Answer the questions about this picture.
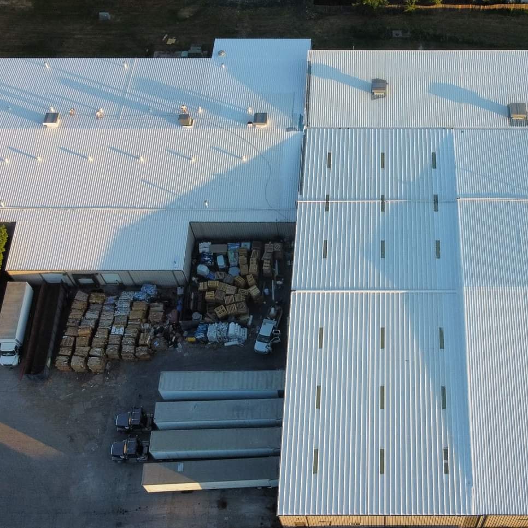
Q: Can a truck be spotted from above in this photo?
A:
Yes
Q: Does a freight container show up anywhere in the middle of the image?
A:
No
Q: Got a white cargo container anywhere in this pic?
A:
No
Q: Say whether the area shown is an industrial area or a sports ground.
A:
industrial area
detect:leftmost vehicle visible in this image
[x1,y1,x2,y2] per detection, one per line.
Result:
[0,282,38,375]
